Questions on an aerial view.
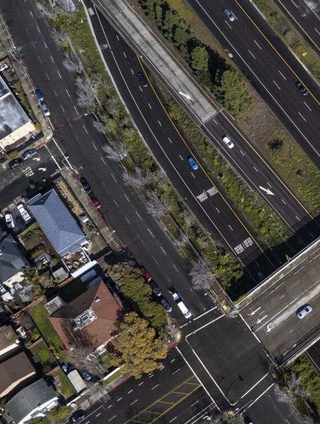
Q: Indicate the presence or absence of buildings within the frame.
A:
Yes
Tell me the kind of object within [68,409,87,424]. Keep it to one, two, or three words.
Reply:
car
